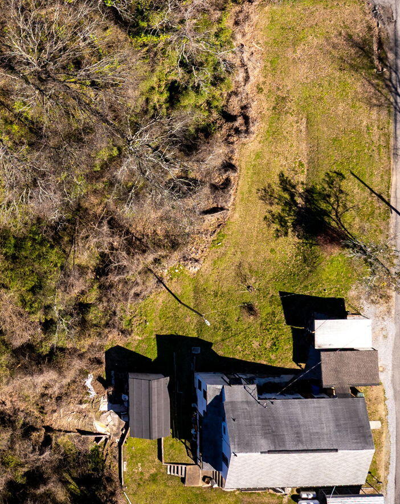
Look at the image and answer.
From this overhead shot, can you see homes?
Yes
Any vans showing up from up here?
No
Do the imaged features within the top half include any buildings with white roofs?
No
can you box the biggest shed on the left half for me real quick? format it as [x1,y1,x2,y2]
[126,371,171,439]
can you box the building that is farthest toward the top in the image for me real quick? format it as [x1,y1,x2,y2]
[304,314,372,349]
